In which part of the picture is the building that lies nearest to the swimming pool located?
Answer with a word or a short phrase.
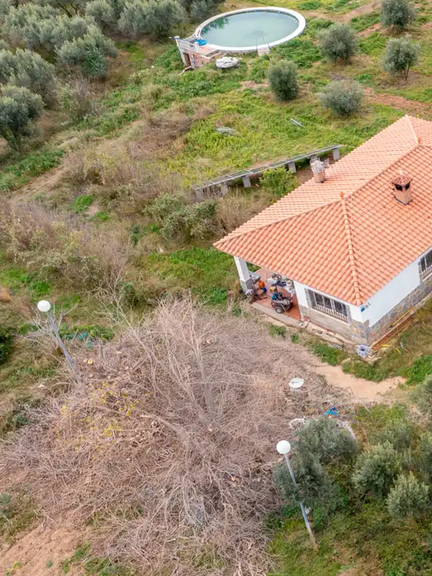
top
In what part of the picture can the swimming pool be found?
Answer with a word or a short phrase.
top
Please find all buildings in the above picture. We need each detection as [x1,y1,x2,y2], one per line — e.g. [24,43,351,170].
[213,113,432,348]
[159,24,223,65]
